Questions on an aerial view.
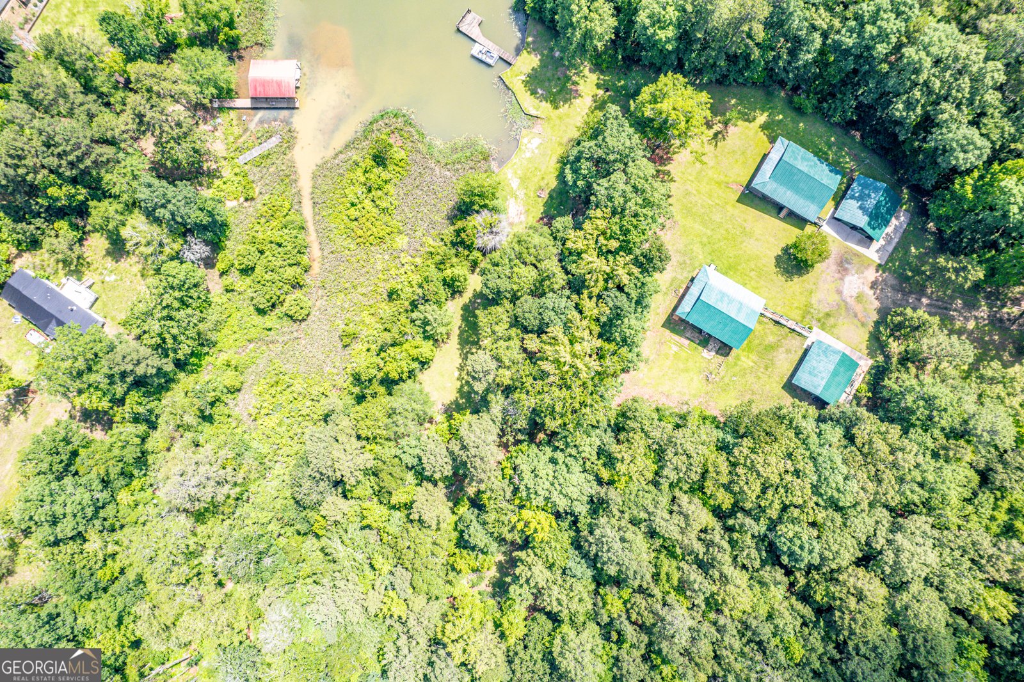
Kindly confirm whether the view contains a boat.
Yes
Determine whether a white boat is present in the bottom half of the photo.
No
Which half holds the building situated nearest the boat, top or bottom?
top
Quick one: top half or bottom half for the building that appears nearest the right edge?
top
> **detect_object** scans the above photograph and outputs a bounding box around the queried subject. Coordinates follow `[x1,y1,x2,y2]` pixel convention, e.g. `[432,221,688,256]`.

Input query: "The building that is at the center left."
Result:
[2,268,105,345]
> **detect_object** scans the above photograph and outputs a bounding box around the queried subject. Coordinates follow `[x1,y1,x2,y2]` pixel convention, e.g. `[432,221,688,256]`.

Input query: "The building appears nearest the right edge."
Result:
[830,175,902,242]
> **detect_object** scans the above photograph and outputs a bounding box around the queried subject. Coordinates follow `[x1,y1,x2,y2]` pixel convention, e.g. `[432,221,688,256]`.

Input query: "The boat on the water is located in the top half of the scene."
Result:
[471,42,499,67]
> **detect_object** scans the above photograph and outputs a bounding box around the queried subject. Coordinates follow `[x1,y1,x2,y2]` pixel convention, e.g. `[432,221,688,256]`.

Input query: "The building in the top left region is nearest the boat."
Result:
[247,59,304,106]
